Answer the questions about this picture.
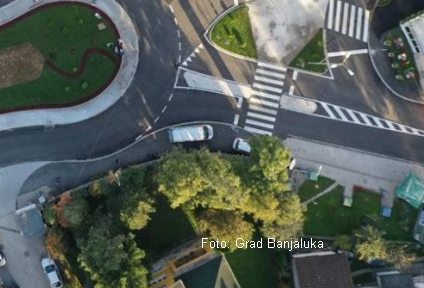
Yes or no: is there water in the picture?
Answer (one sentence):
No, there's no water in this view.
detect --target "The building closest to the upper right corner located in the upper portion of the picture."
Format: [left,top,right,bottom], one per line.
[384,3,424,54]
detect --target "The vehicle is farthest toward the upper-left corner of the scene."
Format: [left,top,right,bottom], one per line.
[166,123,212,141]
